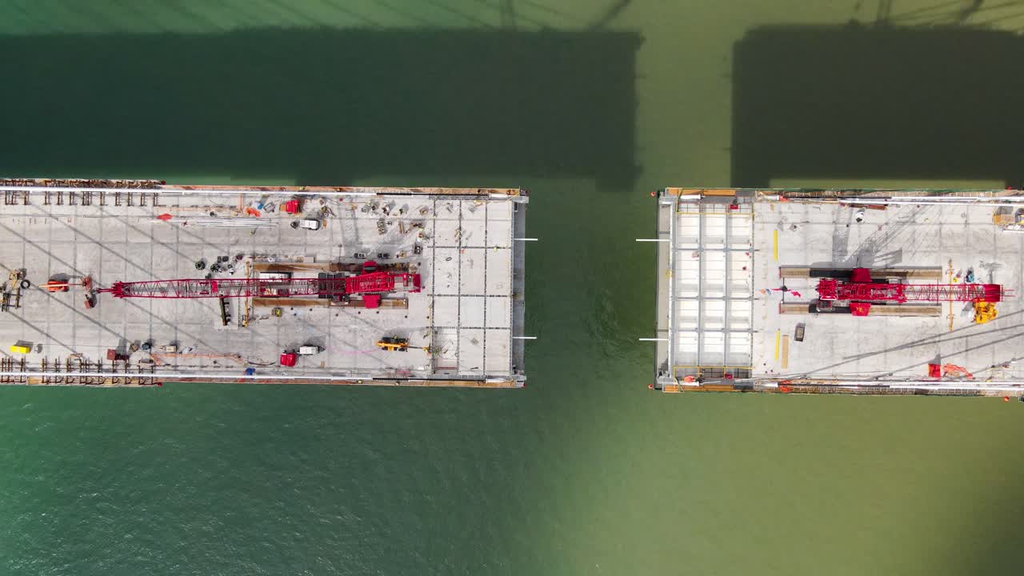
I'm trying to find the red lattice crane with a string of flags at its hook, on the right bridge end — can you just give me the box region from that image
[750,269,1015,315]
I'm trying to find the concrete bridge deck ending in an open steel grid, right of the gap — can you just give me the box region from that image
[636,187,1024,399]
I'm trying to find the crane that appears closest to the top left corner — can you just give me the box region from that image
[99,261,431,307]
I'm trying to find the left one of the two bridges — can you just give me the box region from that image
[0,181,538,388]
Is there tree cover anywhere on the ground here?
No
